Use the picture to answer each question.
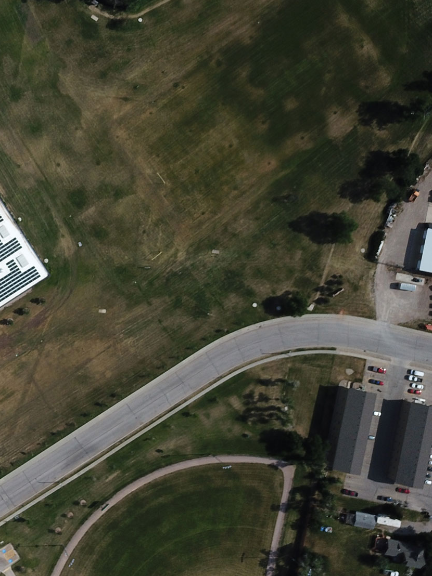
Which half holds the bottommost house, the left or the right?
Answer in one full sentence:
It is on the right.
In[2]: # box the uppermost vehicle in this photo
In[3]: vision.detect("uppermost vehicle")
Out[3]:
[410,189,422,203]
